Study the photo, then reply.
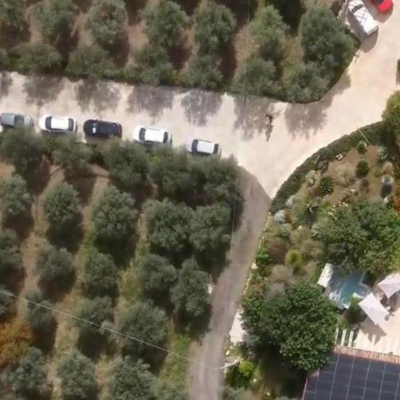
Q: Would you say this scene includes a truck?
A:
No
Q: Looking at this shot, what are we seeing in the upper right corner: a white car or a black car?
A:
white car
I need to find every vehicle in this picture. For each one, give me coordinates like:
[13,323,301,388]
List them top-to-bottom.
[345,0,380,38]
[370,0,394,12]
[0,111,38,129]
[40,114,79,133]
[84,119,124,139]
[134,125,174,146]
[188,137,223,156]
